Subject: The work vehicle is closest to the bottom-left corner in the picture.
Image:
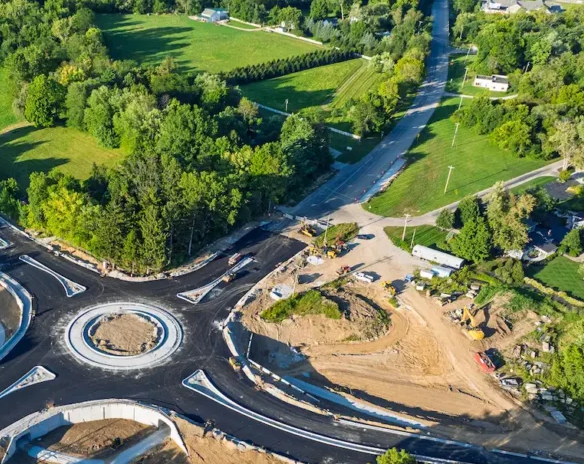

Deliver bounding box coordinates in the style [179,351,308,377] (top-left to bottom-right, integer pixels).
[231,356,244,373]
